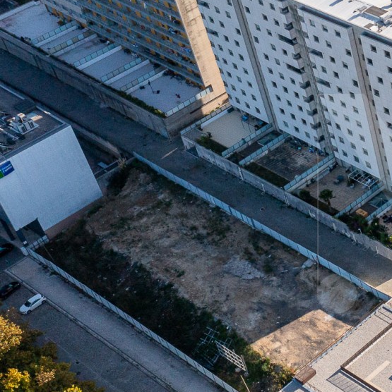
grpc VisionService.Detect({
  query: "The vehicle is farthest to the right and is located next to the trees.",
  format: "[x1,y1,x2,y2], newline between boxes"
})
[21,294,46,315]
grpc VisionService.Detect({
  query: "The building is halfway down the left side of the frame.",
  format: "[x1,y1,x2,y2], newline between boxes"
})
[0,85,104,248]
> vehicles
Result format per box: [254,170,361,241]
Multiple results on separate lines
[21,294,46,315]
[0,279,27,301]
[0,241,22,257]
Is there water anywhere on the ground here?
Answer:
No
